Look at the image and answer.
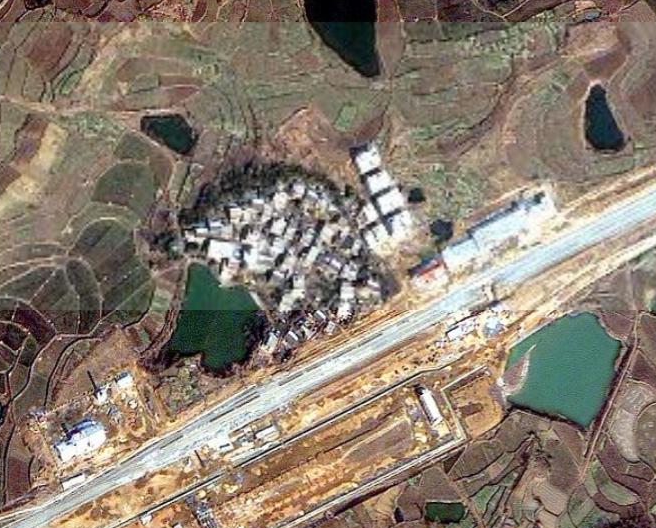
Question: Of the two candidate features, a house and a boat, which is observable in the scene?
house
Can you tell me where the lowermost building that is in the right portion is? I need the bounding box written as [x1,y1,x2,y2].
[420,391,443,424]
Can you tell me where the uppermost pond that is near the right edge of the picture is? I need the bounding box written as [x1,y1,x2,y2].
[586,84,624,150]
